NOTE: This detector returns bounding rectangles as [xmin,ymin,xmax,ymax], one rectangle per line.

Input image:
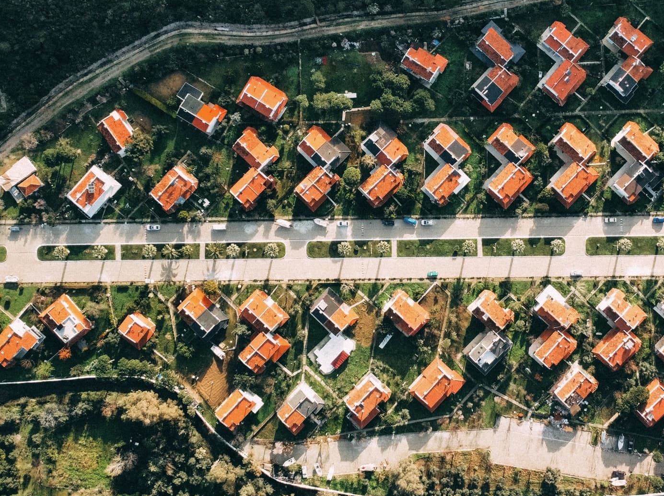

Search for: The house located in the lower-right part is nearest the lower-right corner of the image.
[631,378,664,432]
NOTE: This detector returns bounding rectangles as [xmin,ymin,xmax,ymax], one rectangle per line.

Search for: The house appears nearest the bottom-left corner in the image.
[0,317,44,367]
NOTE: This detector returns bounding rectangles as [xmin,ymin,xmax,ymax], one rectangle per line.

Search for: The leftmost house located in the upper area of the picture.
[0,157,47,203]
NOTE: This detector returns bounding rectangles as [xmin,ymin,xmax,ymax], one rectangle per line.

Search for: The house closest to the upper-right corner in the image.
[601,18,652,61]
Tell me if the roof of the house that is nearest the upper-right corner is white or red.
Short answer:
red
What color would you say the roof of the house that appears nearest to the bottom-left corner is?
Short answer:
orange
